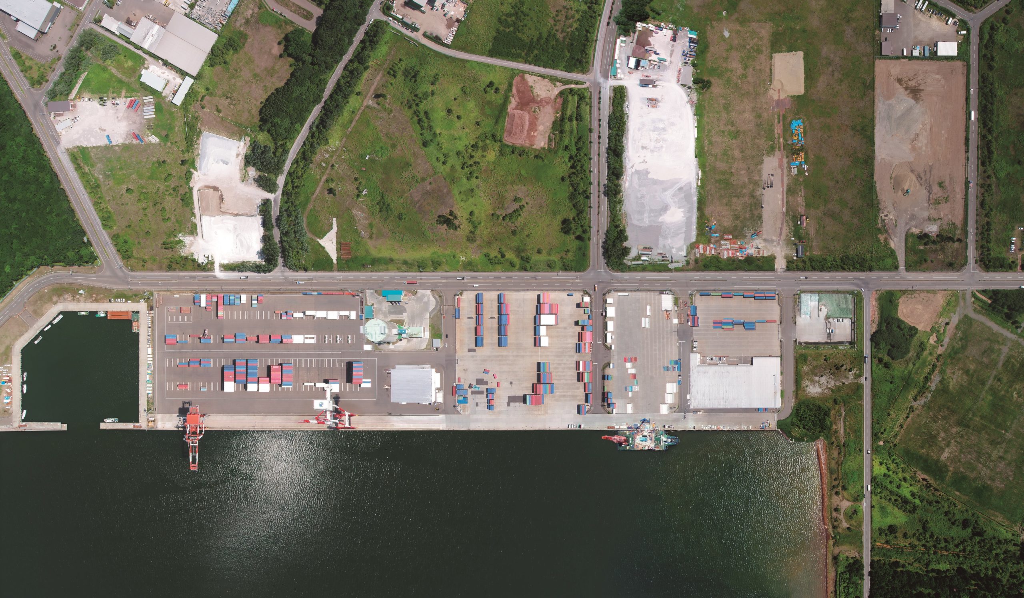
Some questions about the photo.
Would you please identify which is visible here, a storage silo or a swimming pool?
storage silo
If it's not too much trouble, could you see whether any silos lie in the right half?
No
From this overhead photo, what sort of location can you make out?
port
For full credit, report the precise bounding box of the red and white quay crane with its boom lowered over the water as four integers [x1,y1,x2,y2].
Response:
[180,405,217,473]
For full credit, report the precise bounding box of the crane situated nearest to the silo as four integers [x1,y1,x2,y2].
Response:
[315,386,352,445]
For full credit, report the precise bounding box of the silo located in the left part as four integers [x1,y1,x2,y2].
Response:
[359,318,393,343]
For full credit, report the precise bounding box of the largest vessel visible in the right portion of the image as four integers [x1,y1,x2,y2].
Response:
[601,430,664,450]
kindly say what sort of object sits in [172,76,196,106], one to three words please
shed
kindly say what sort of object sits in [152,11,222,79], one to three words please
building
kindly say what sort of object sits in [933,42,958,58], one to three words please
building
